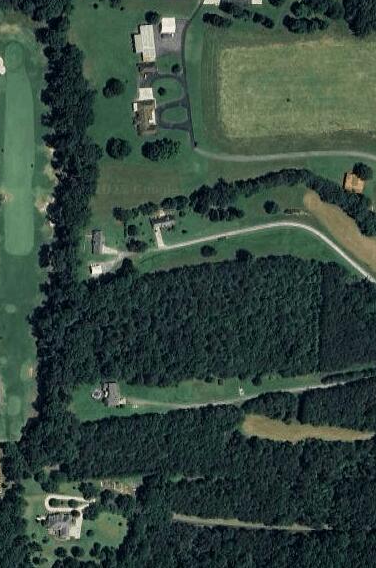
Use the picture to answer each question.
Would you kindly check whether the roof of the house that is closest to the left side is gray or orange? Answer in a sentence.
From above, the roof of the house that is closest to the left side appears gray.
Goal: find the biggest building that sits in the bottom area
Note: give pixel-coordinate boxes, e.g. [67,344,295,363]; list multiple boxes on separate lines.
[47,514,69,537]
